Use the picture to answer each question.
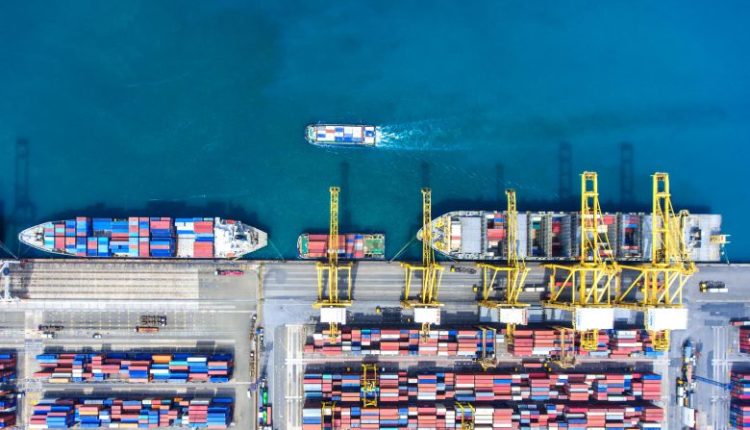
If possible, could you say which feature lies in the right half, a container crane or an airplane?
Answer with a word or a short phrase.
container crane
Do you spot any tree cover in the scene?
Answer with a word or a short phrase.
No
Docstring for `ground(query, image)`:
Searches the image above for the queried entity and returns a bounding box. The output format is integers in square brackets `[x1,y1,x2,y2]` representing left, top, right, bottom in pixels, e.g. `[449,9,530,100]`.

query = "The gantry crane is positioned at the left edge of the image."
[0,262,32,306]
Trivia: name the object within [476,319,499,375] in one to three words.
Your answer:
container crane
